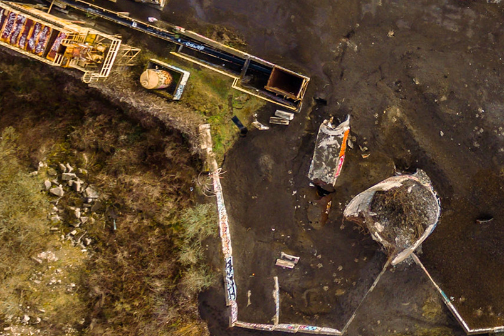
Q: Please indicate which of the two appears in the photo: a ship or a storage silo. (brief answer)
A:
storage silo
